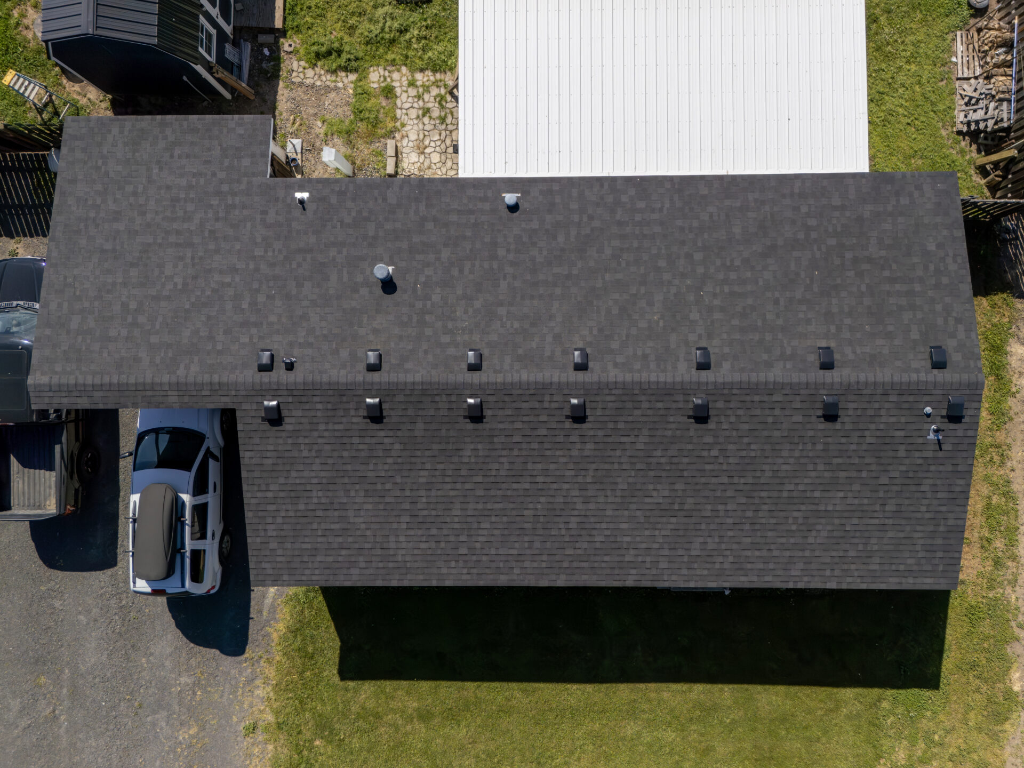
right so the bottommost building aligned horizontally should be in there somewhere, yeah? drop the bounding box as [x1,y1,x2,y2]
[26,114,988,589]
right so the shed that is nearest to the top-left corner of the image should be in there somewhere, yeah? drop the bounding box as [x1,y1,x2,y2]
[49,0,232,98]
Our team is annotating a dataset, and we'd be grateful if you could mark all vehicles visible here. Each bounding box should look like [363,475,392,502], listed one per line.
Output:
[0,252,94,520]
[124,407,231,599]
